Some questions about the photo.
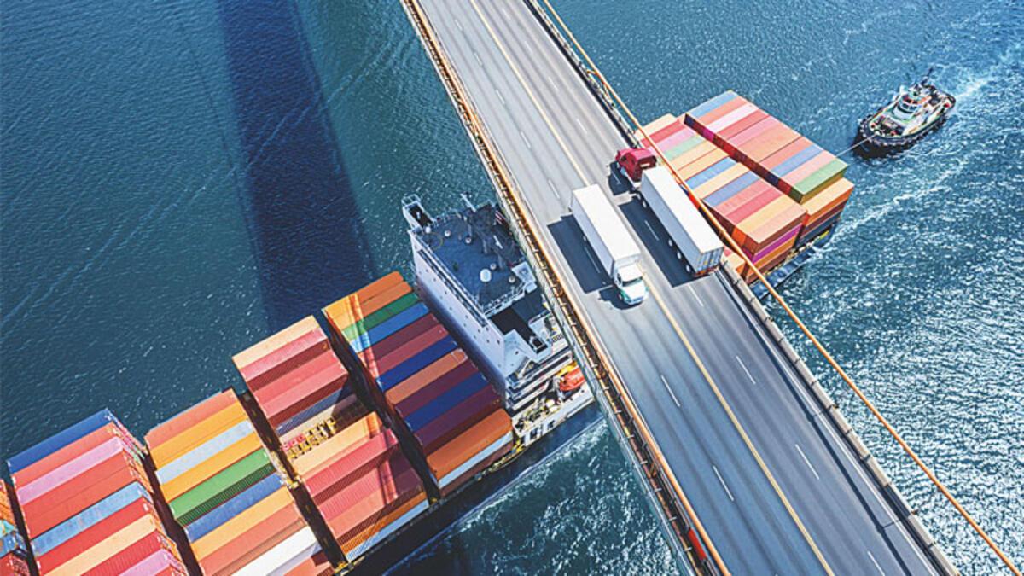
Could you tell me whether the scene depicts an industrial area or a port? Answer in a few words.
port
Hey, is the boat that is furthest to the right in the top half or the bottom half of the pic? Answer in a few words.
top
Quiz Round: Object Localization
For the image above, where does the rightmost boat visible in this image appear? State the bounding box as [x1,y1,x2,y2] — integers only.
[858,62,963,160]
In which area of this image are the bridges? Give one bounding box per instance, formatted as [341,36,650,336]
[395,0,1022,576]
